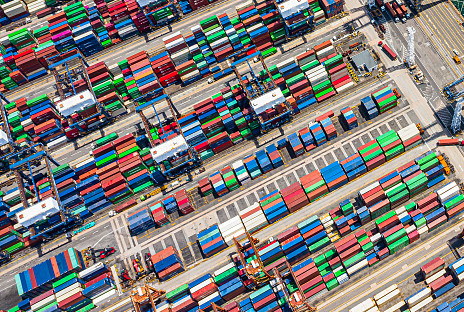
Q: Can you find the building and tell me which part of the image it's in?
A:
top right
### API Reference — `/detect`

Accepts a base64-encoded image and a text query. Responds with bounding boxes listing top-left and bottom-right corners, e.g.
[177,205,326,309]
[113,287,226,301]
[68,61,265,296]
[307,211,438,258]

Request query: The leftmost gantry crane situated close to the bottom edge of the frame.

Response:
[129,285,162,312]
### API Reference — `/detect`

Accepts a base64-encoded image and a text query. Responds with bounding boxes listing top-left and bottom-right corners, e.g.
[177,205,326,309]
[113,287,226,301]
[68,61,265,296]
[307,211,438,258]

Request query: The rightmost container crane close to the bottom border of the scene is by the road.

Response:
[273,262,314,312]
